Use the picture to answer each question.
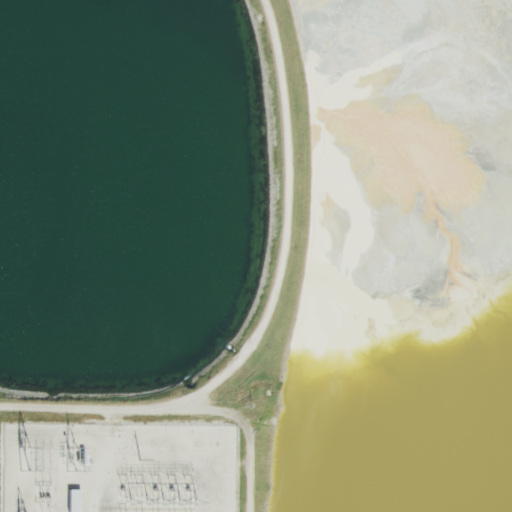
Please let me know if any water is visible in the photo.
Yes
